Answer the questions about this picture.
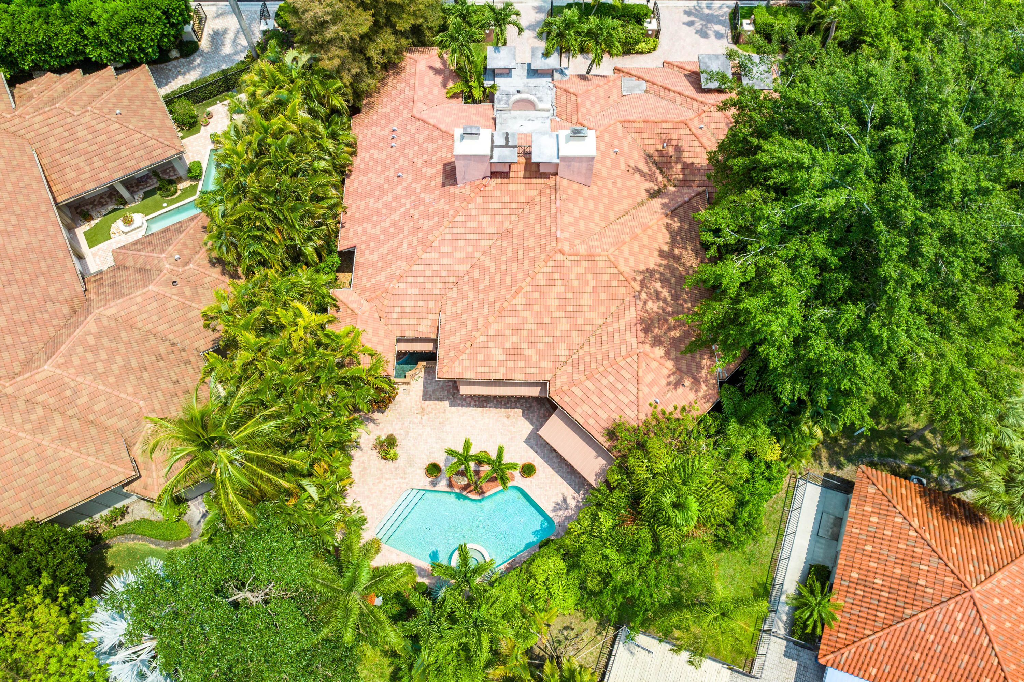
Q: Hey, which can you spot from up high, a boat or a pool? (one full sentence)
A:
The image shows a pool.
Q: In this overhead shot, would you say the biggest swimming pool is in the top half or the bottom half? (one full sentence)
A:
You can find the biggest swimming pool in the bottom half.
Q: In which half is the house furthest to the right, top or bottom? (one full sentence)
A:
You can find the house furthest to the right in the bottom half.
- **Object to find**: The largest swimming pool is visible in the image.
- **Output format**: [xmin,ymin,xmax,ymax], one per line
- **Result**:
[373,481,561,588]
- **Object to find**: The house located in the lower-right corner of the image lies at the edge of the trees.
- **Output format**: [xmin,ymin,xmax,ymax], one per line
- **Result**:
[816,465,1024,682]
